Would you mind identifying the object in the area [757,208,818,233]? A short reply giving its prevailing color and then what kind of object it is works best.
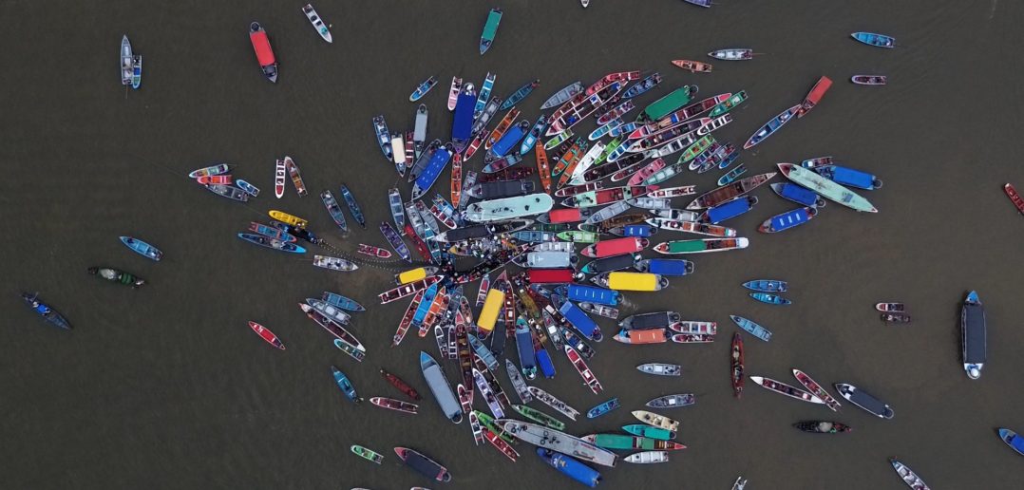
blue boat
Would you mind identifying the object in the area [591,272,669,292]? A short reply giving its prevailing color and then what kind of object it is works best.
yellow boat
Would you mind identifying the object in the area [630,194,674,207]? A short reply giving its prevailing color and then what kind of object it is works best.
white boat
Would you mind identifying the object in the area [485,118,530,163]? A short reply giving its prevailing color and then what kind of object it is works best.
blue boat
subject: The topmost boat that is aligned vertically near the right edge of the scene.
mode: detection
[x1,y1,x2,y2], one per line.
[961,291,984,374]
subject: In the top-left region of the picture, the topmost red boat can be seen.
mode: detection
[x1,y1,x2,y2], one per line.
[250,25,278,82]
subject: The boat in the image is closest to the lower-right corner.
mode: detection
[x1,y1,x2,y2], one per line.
[998,428,1024,451]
